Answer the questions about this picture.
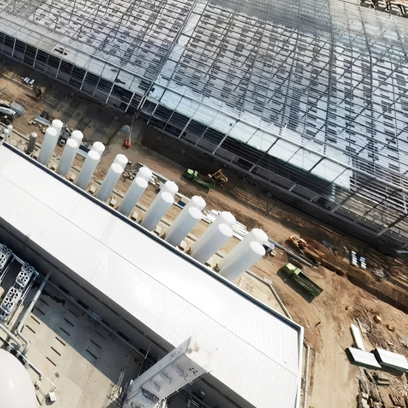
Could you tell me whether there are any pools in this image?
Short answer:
No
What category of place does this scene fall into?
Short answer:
industrial area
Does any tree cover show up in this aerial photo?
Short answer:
No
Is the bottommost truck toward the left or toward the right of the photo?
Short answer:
right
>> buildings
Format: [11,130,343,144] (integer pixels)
[0,0,408,257]
[0,141,304,408]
